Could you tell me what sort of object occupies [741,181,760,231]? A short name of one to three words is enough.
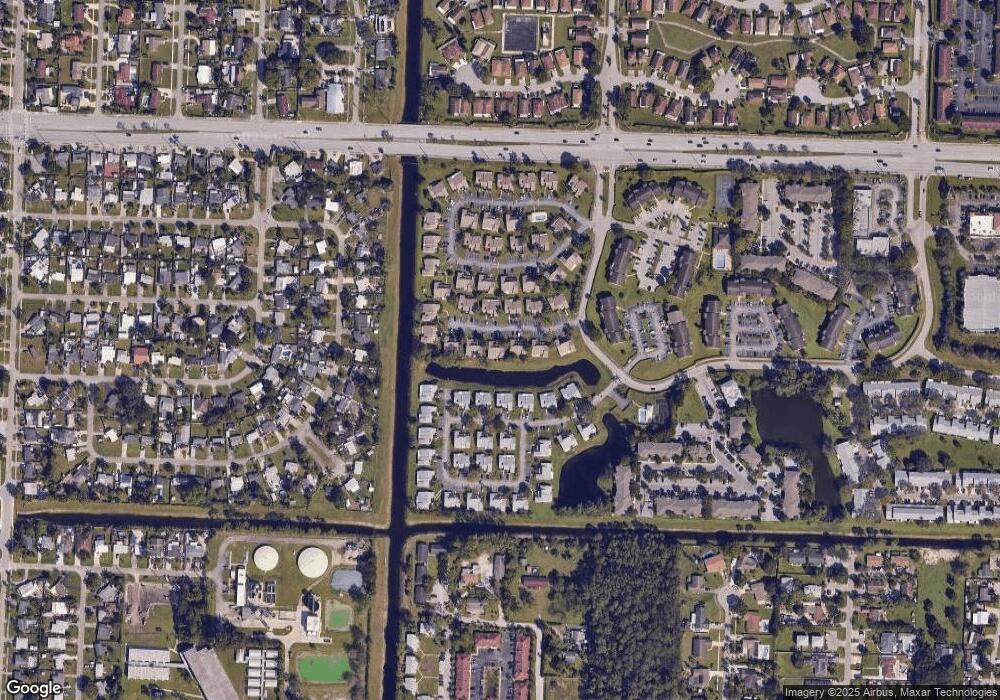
building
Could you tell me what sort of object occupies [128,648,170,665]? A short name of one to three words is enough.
building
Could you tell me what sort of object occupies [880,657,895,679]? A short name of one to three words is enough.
house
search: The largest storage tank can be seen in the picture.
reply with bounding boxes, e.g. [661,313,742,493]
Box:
[297,547,328,579]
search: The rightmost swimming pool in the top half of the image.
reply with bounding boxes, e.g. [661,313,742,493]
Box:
[712,250,729,272]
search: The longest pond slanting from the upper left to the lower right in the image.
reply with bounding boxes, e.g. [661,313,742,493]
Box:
[752,389,843,514]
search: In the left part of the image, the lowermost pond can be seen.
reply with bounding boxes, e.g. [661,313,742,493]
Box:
[297,653,354,684]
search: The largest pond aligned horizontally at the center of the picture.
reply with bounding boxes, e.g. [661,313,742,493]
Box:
[427,359,601,387]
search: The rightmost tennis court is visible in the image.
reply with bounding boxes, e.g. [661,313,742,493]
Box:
[716,175,733,210]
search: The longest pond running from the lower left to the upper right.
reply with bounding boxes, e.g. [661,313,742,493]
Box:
[553,413,636,509]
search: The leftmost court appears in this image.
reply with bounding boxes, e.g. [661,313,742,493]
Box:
[503,14,538,53]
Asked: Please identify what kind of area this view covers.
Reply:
residential area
